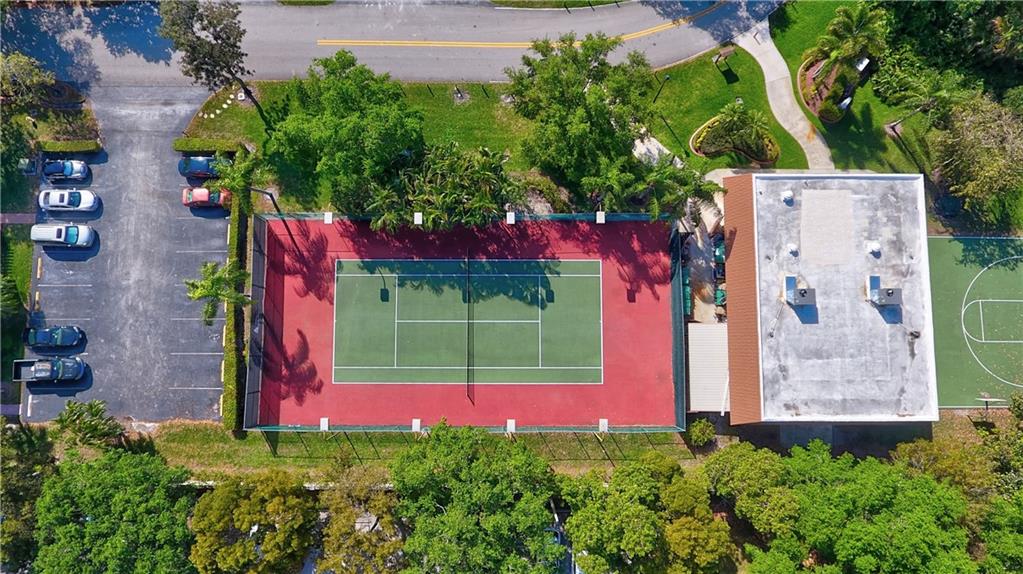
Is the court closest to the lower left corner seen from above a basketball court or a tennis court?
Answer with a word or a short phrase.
tennis court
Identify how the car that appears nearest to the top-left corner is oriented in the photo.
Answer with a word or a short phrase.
from left to right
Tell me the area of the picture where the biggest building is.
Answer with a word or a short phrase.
right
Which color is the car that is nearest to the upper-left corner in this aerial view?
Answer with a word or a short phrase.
blue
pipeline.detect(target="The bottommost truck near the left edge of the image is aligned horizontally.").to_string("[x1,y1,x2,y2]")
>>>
[11,357,88,383]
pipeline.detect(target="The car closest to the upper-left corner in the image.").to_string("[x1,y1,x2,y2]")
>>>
[42,158,92,181]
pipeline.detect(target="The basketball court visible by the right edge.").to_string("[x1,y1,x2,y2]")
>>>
[927,238,1023,406]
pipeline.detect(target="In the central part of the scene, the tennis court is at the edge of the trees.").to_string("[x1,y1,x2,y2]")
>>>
[260,220,674,425]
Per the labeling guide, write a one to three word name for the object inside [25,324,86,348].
car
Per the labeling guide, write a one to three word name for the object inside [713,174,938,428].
building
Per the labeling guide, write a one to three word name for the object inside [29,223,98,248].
car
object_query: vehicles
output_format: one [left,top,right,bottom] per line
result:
[42,158,92,181]
[11,357,88,383]
[29,223,98,248]
[184,186,229,209]
[180,155,236,180]
[39,188,101,213]
[25,324,86,348]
